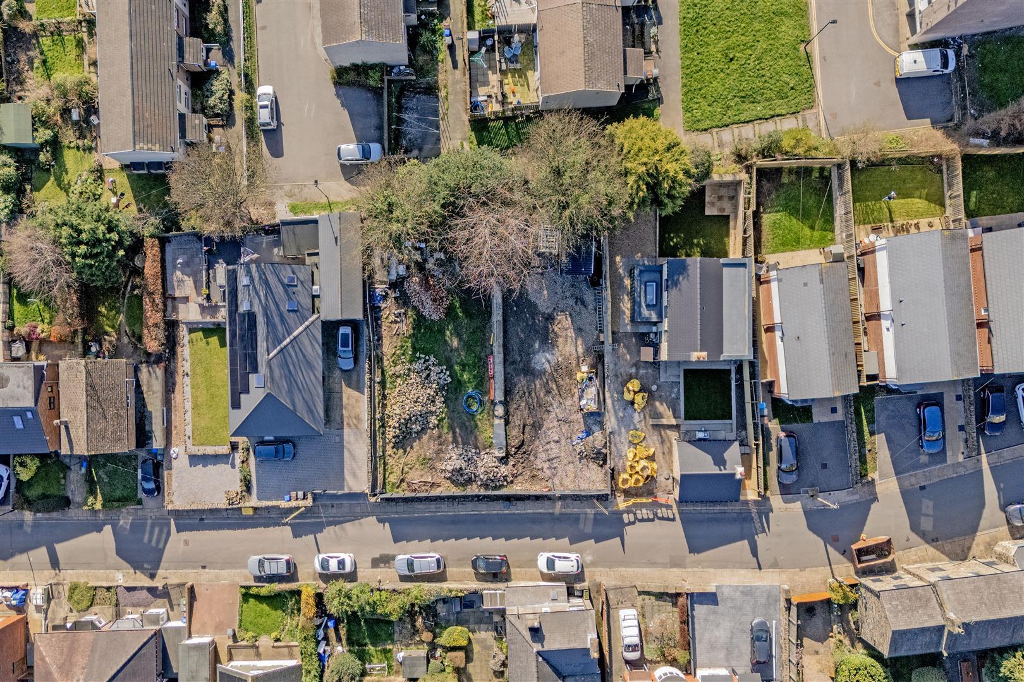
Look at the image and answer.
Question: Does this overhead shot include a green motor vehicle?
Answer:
No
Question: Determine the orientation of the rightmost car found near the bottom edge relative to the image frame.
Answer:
up and down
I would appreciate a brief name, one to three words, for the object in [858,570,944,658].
house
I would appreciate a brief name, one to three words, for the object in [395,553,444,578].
car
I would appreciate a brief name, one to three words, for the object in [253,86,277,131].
car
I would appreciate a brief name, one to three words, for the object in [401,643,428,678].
shed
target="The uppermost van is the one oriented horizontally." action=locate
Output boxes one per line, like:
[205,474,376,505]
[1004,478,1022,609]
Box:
[893,47,950,78]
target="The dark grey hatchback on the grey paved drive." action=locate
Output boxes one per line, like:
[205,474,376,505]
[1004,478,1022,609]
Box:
[749,616,773,664]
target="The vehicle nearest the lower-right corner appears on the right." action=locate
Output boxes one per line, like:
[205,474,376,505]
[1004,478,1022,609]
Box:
[1001,504,1024,528]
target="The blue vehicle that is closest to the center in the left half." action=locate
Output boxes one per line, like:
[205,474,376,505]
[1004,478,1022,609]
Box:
[333,325,356,370]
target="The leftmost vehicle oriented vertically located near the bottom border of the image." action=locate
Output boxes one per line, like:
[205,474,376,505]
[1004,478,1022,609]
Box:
[619,606,643,660]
